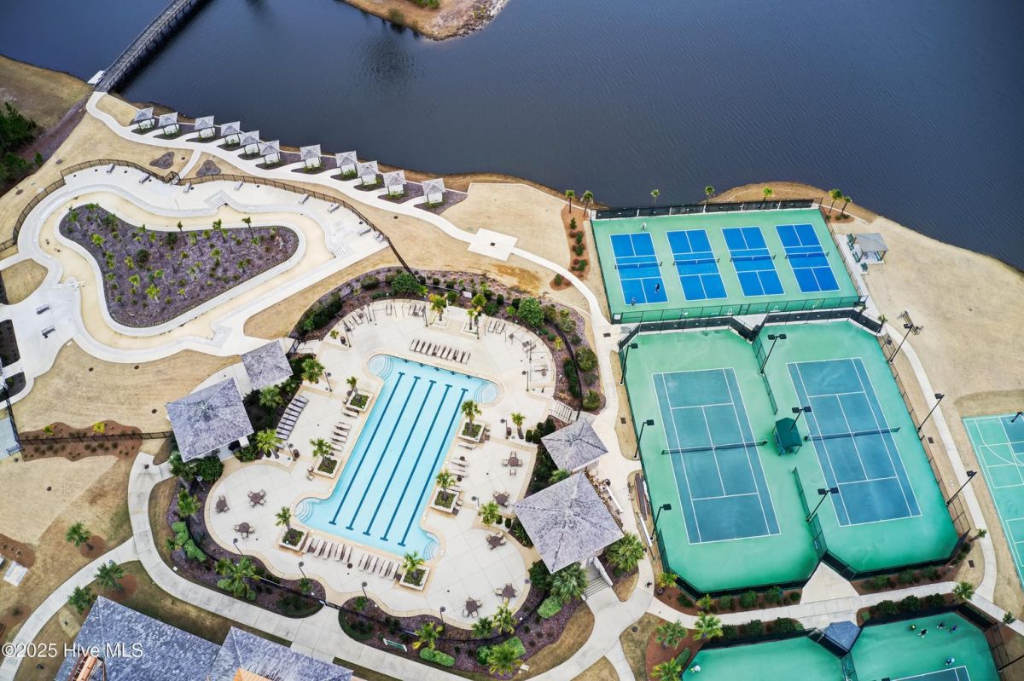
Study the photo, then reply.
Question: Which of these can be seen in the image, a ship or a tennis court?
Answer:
tennis court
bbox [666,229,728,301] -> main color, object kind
blue sports court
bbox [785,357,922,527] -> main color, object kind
blue tennis court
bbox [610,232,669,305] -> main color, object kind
blue sports court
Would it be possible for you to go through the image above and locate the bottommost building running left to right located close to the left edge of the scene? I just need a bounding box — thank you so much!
[43,596,222,681]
